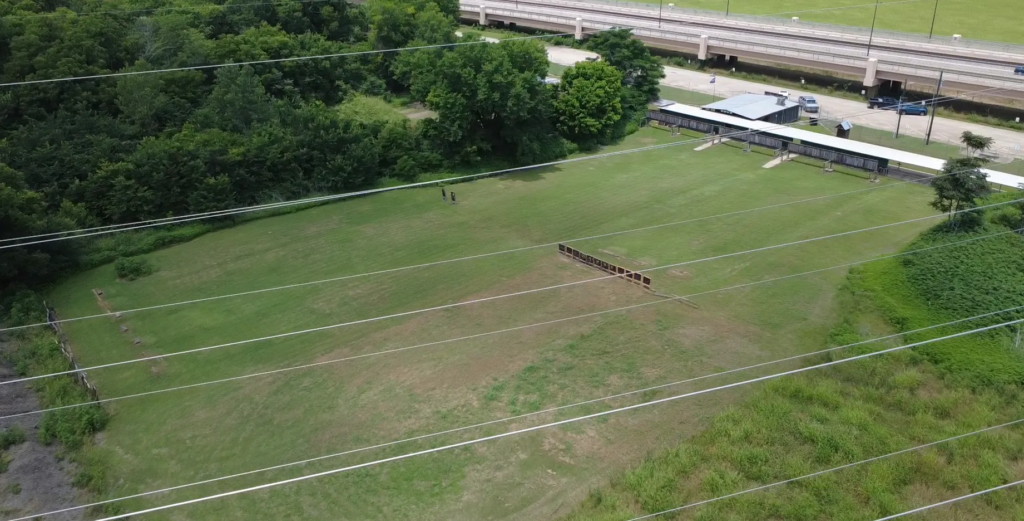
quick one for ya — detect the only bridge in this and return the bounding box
[406,0,1024,102]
